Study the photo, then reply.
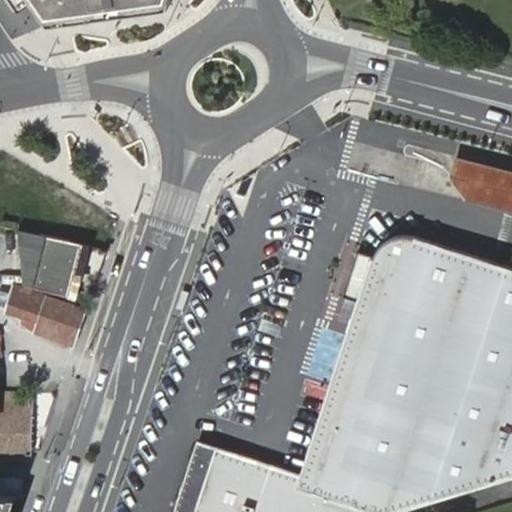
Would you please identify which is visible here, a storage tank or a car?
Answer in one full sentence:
Visible in the photo is a car.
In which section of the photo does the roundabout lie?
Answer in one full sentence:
You can find the roundabout in the top area of the picture.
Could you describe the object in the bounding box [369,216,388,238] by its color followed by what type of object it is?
white vehicle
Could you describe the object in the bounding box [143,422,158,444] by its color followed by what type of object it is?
white car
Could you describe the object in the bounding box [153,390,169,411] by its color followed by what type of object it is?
white car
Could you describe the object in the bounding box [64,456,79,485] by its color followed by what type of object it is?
white vehicle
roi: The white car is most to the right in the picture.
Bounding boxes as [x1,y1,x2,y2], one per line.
[486,109,511,123]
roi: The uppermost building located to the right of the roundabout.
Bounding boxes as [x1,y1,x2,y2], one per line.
[450,158,512,214]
